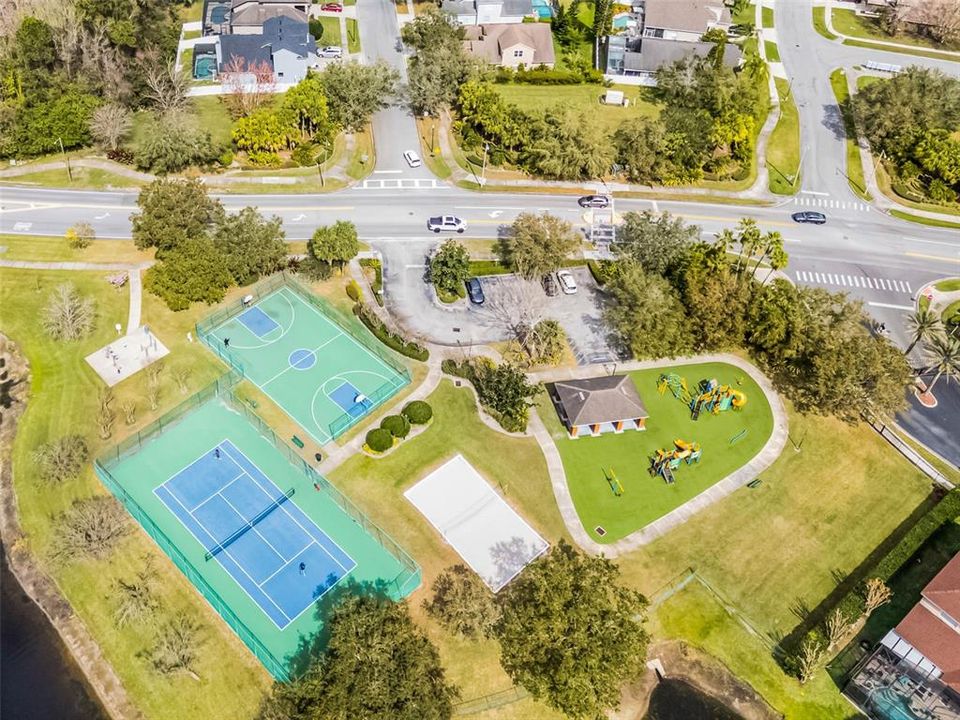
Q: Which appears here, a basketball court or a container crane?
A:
basketball court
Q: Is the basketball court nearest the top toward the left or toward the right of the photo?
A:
left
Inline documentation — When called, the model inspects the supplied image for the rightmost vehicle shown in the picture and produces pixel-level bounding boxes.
[793,210,829,226]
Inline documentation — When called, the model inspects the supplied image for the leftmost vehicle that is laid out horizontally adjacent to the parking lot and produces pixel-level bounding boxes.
[426,217,467,233]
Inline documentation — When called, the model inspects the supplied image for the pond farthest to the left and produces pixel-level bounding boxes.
[0,536,112,720]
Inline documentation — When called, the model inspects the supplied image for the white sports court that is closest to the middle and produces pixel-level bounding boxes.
[403,454,550,592]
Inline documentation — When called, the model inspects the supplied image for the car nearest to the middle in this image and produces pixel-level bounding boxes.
[467,277,487,303]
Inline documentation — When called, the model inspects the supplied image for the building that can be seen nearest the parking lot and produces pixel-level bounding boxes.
[553,374,650,440]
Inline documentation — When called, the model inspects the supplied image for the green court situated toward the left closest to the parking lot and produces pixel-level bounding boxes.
[196,282,411,445]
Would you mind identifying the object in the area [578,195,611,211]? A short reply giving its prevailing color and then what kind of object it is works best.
gray car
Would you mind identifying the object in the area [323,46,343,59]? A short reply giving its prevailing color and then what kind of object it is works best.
white vehicle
